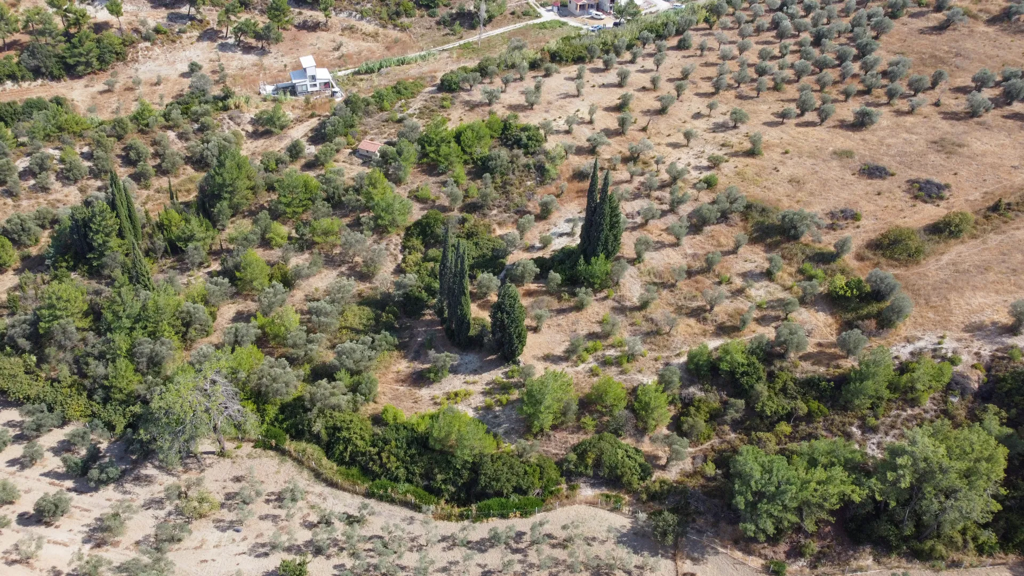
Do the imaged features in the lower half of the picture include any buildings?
No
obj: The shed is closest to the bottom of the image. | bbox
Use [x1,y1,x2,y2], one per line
[355,138,386,159]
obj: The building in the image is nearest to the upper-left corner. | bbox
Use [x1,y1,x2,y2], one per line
[286,57,331,94]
